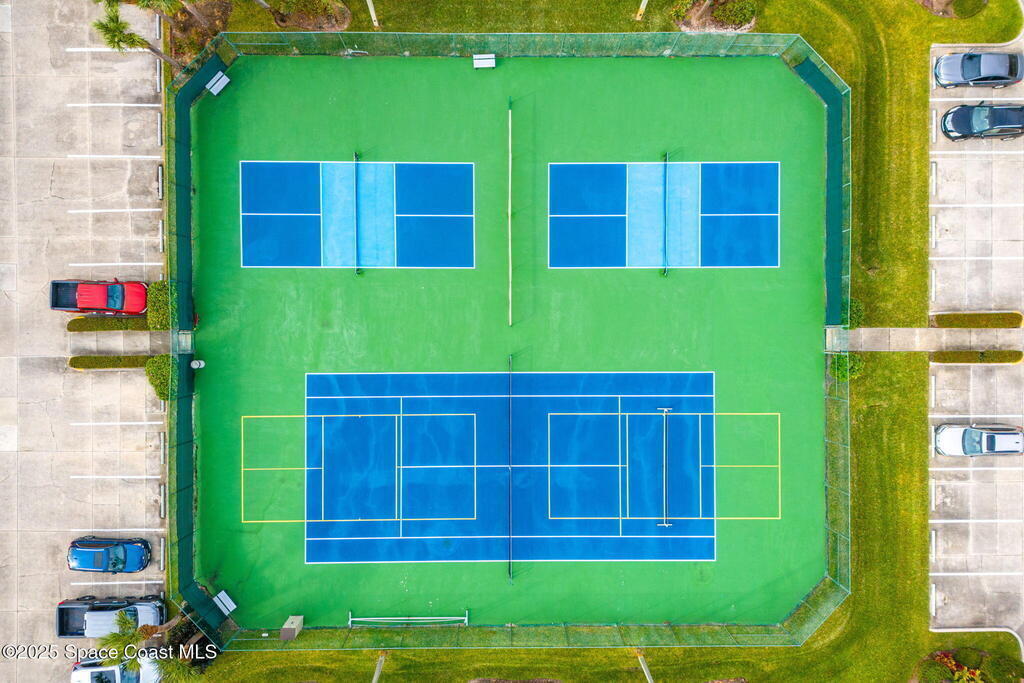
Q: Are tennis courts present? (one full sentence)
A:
Yes, there is a tennis court in the image.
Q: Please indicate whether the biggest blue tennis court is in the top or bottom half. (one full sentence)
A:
The bottom half of the photo is where the biggest blue tennis court is.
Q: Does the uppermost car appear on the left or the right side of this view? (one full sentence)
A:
It is on the right.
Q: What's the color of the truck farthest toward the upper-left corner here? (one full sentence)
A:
From above, the truck farthest toward the upper-left corner appears red.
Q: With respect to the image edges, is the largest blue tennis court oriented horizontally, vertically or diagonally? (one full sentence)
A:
Seen from above, the largest blue tennis court lies horizontally.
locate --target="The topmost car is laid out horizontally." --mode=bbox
[932,47,1021,89]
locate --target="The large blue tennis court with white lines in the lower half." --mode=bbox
[305,371,717,564]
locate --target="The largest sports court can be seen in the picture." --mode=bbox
[192,53,827,630]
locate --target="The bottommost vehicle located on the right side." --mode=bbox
[933,422,1022,461]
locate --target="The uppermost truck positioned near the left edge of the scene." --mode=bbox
[51,277,151,318]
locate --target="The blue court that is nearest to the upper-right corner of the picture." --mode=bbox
[548,162,780,268]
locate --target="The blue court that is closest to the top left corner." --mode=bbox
[240,161,475,268]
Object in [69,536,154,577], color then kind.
blue car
